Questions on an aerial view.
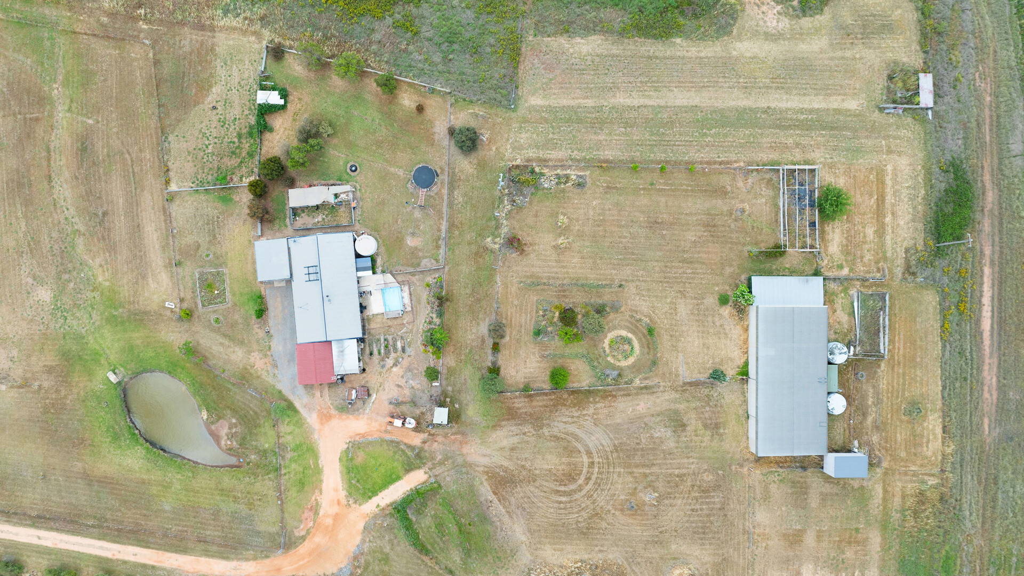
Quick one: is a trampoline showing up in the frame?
Yes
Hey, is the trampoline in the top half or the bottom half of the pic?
top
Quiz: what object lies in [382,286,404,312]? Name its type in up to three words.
swimming pool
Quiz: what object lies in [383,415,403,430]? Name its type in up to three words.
work vehicle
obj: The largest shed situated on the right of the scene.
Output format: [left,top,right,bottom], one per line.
[748,305,828,457]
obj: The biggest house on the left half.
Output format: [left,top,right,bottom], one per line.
[253,232,363,344]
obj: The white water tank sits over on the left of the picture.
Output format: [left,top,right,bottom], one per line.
[353,233,380,257]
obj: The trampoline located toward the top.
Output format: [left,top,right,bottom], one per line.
[412,164,437,189]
